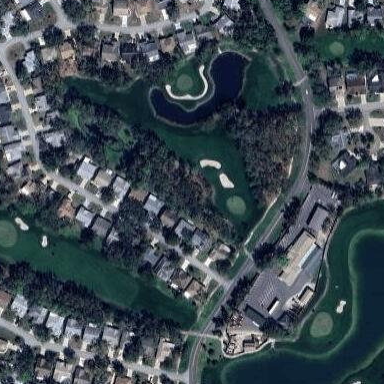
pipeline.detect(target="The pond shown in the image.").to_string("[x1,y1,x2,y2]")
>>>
[150,53,248,127]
